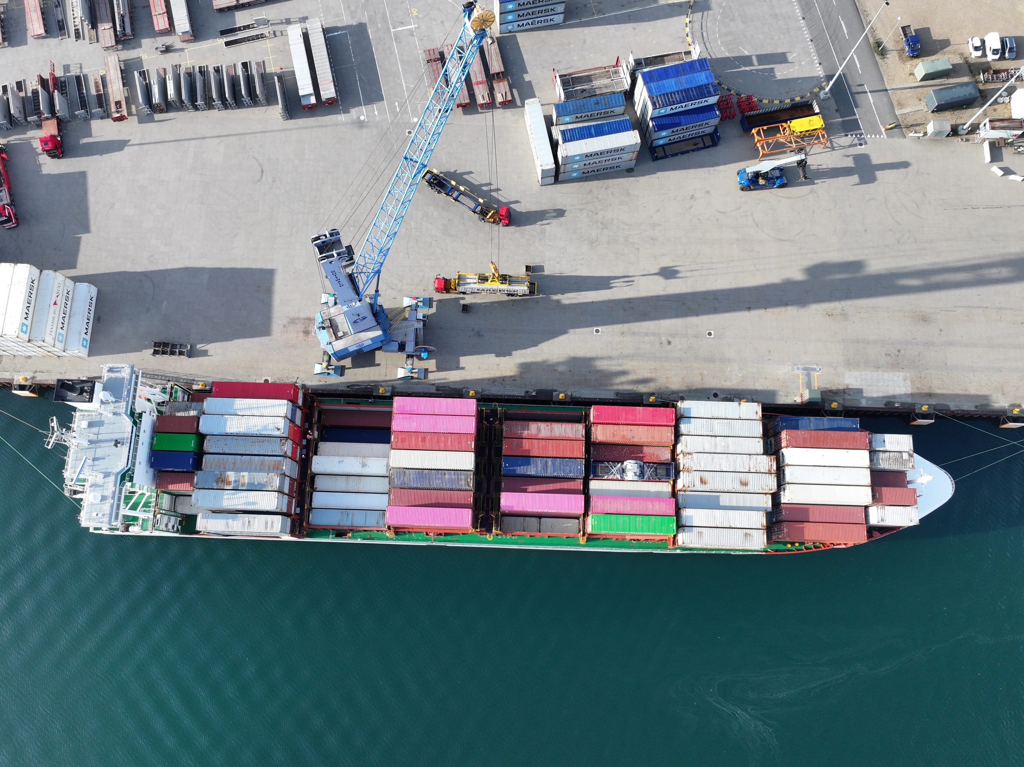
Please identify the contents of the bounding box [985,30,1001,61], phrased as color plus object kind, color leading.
white vehicle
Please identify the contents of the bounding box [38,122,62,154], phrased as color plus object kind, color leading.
red truck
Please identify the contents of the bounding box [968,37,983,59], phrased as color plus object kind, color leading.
white car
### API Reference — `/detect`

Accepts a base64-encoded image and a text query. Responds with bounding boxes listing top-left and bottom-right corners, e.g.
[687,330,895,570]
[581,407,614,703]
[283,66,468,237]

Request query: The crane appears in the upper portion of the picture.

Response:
[312,2,505,381]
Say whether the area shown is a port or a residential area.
port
